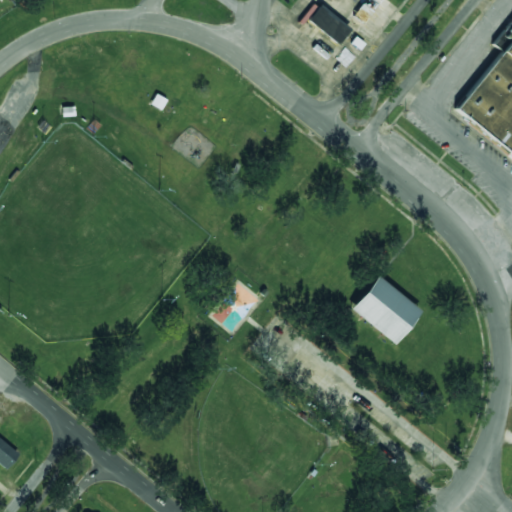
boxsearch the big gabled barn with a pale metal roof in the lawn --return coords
[352,277,422,346]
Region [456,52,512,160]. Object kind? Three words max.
building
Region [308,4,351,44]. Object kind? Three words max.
building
